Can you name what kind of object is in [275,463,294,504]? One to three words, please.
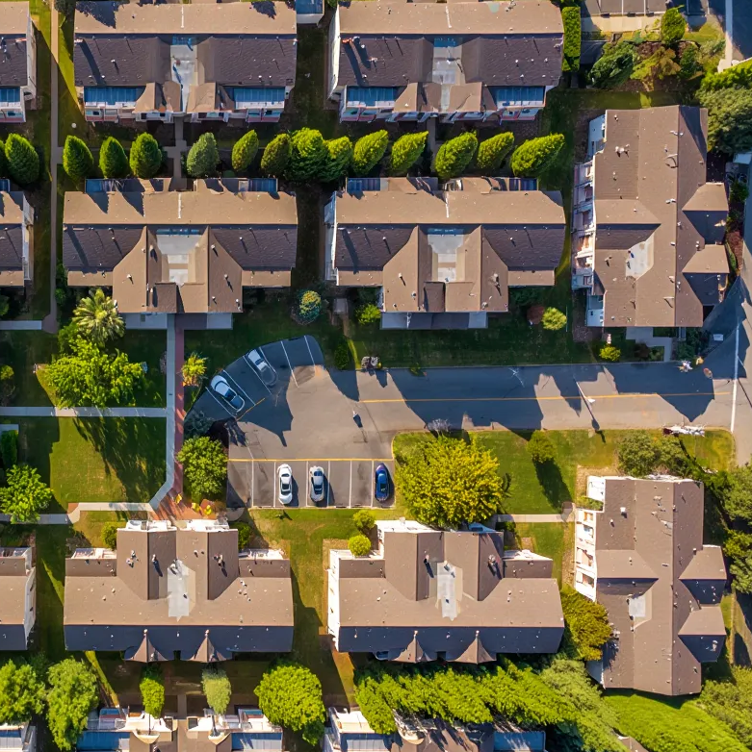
car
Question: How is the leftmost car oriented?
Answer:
on a diagonal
